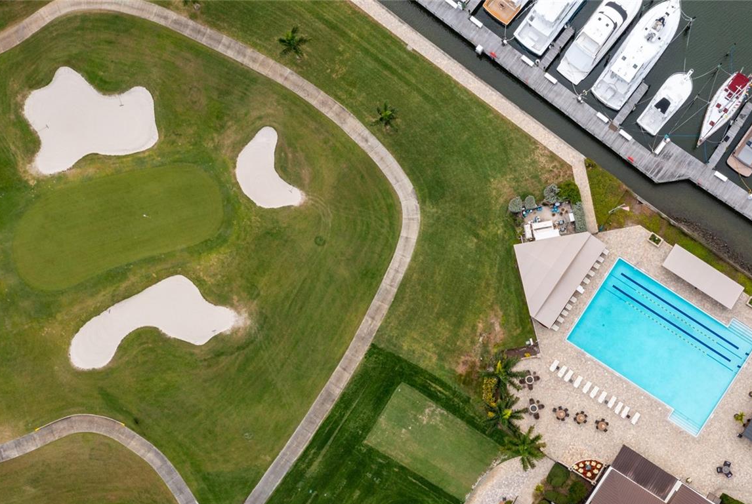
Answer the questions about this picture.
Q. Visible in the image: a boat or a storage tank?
boat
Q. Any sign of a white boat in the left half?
No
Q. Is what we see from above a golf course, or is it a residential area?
golf course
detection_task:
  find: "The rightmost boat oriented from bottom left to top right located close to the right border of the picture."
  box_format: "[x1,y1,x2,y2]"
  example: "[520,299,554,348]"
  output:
[697,71,752,146]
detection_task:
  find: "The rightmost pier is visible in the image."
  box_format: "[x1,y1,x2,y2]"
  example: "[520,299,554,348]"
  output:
[707,101,752,169]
